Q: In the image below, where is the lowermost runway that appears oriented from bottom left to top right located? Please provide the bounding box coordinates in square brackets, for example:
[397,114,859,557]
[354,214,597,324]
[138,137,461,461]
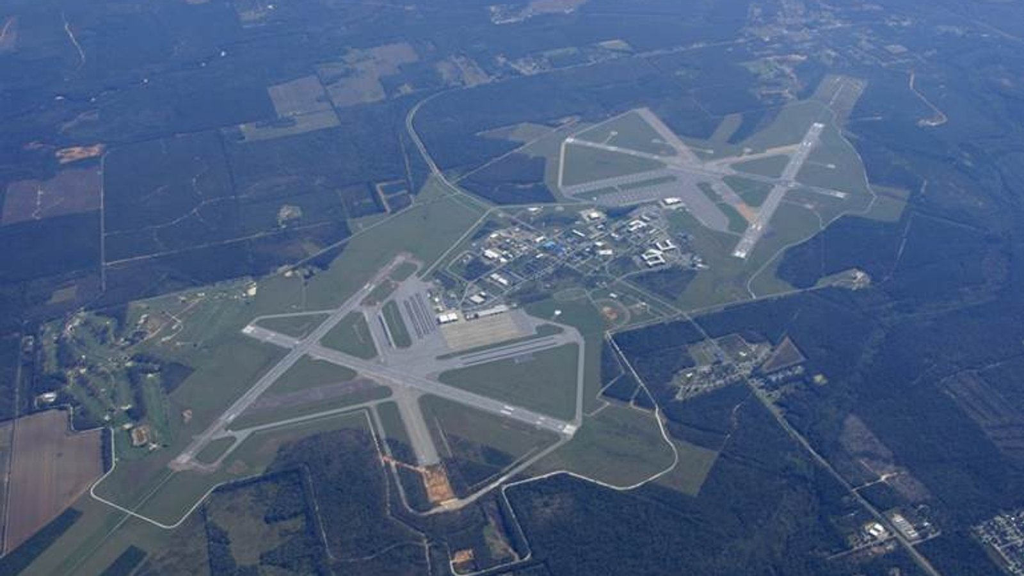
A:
[176,257,413,460]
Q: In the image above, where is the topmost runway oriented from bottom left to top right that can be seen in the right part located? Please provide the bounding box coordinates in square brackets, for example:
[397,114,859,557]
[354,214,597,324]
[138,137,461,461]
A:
[731,124,825,259]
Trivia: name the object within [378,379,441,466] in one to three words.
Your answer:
runway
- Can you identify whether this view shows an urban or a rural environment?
rural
